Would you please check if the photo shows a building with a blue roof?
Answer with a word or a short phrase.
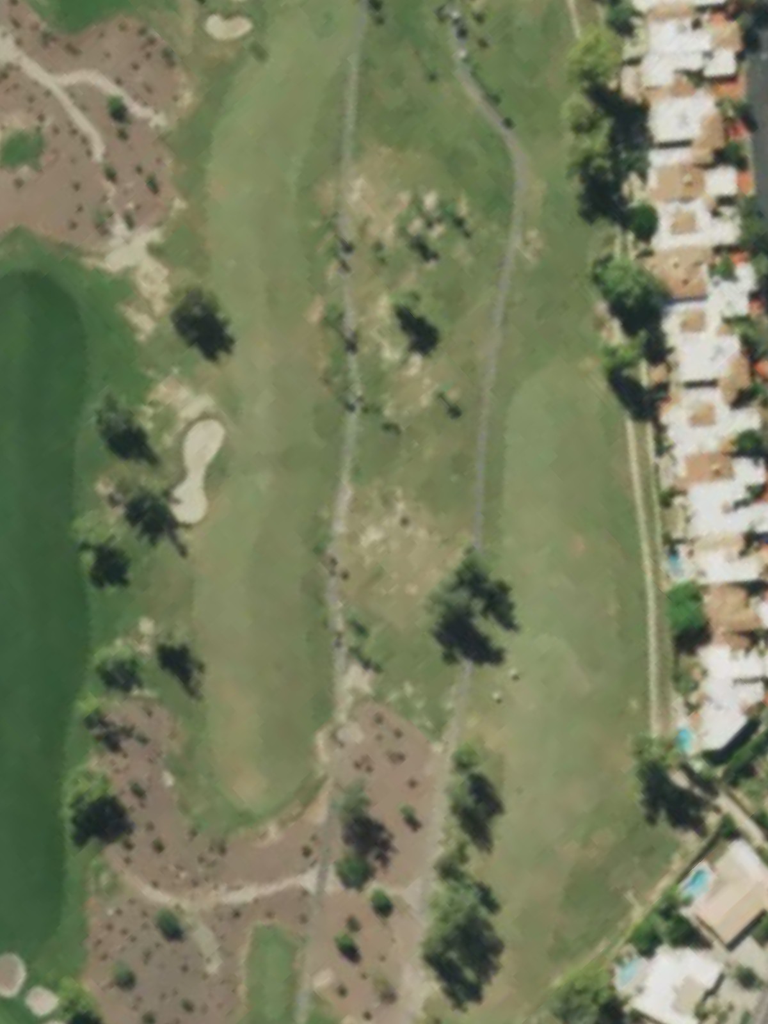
No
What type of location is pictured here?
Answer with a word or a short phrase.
golf course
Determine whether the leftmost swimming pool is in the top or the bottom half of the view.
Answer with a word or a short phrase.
bottom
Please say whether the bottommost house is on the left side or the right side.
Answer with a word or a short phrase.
right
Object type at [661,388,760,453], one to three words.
house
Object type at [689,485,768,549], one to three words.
house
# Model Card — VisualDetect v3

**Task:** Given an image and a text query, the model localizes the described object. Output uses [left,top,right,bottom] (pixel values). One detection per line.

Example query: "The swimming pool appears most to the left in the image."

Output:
[618,959,640,987]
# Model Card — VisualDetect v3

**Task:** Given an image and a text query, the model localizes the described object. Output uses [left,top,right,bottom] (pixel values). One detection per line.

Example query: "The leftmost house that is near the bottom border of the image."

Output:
[628,949,723,1024]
